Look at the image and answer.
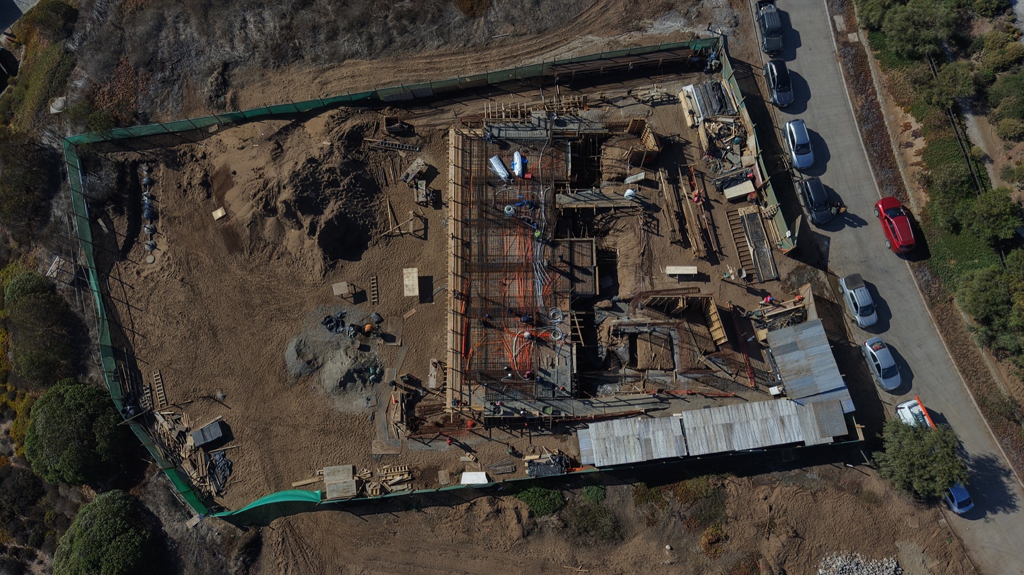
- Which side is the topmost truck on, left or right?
right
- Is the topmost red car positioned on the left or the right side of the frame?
right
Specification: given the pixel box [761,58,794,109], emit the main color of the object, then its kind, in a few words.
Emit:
black car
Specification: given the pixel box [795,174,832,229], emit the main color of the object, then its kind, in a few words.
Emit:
black car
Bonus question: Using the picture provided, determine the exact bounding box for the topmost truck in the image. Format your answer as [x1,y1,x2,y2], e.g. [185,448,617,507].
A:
[752,0,784,54]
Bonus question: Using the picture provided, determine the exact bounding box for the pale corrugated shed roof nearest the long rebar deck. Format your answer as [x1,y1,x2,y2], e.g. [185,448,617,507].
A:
[588,414,688,467]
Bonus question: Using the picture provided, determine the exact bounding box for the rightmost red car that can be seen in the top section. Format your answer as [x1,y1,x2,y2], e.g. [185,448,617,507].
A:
[871,198,917,256]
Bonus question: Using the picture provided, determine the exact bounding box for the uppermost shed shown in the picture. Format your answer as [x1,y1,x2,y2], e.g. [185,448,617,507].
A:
[760,319,857,416]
